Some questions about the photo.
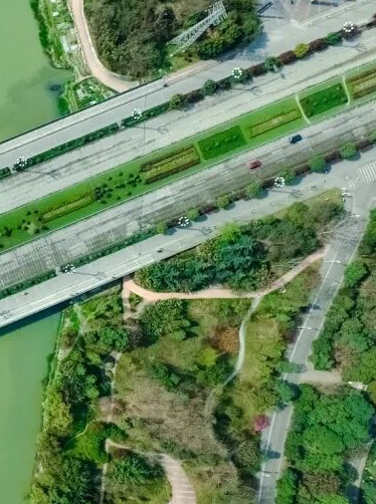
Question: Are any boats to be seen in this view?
No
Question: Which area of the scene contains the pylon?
top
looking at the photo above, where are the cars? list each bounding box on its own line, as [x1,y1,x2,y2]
[249,161,262,169]
[288,134,301,143]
